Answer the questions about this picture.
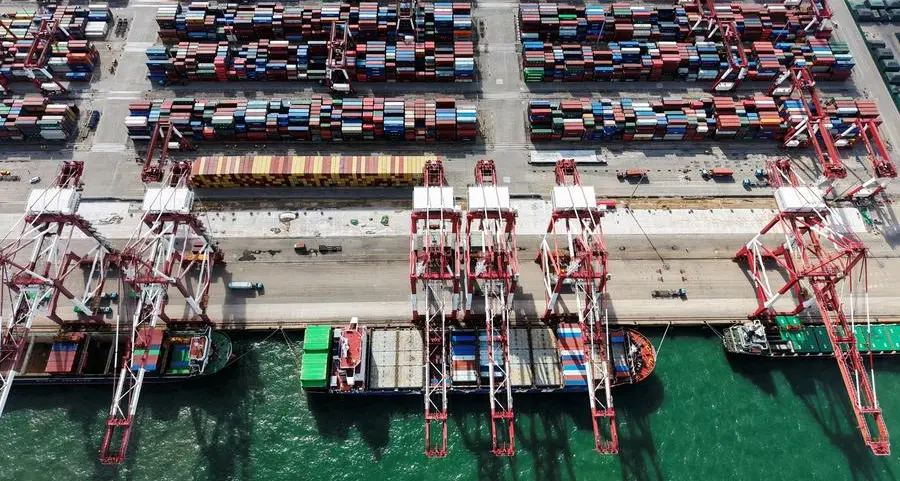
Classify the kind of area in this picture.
port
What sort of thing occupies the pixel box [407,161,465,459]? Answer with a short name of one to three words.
container crane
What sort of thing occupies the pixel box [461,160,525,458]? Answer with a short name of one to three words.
container crane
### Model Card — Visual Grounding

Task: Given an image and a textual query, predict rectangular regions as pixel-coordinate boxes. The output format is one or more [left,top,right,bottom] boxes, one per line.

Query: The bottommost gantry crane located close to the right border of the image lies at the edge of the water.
[731,159,890,452]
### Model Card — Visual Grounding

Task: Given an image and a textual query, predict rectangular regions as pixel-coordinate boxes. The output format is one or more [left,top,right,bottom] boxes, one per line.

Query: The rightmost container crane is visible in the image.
[824,118,891,197]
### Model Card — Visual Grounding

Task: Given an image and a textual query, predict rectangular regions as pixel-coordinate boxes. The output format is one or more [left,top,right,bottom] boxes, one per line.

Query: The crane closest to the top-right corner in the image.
[781,0,835,42]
